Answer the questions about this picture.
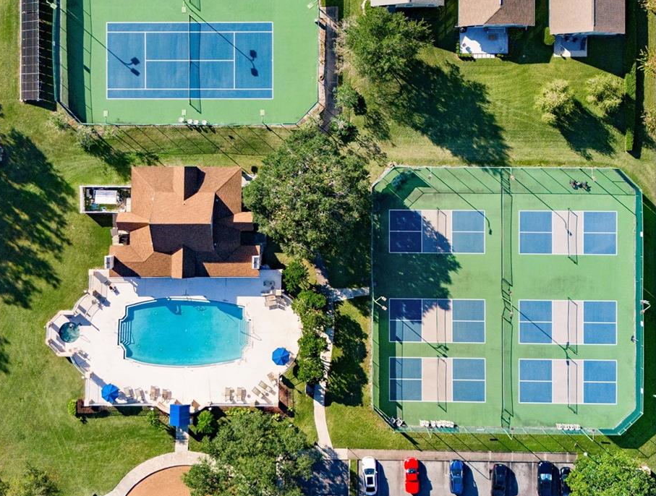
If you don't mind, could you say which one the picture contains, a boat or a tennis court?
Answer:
tennis court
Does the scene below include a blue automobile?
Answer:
Yes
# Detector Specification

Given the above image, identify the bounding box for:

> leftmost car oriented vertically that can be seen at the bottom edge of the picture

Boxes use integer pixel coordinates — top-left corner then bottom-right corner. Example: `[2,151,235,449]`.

[361,456,378,495]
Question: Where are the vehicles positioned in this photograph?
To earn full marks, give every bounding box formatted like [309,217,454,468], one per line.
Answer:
[448,460,465,495]
[403,458,420,495]
[537,462,554,496]
[559,468,572,496]
[491,464,508,496]
[361,456,378,495]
